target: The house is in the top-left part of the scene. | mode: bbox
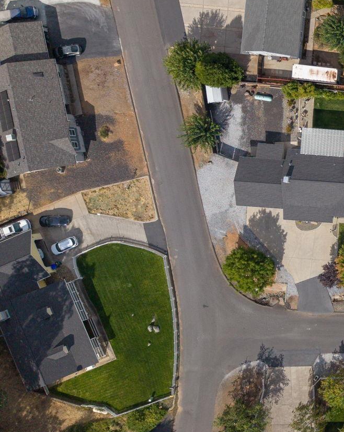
[0,20,90,180]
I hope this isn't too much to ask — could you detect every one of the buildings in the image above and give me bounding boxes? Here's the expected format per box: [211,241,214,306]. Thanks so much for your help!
[206,85,232,104]
[0,20,90,180]
[240,0,311,60]
[0,229,109,391]
[233,143,344,223]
